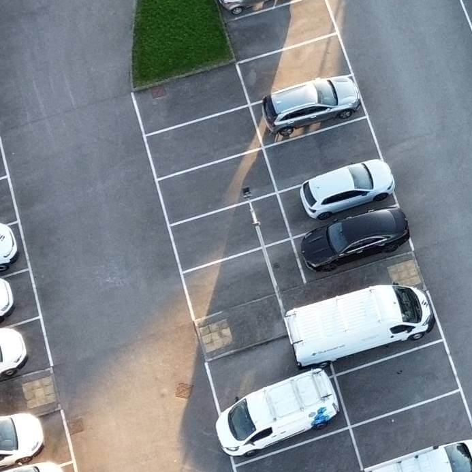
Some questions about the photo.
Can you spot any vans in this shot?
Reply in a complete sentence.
Yes, a van can be made out from above.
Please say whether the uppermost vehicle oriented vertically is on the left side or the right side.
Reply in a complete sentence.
The uppermost vehicle oriented vertically sits on the left side.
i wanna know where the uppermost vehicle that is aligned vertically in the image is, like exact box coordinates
[0,225,20,274]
